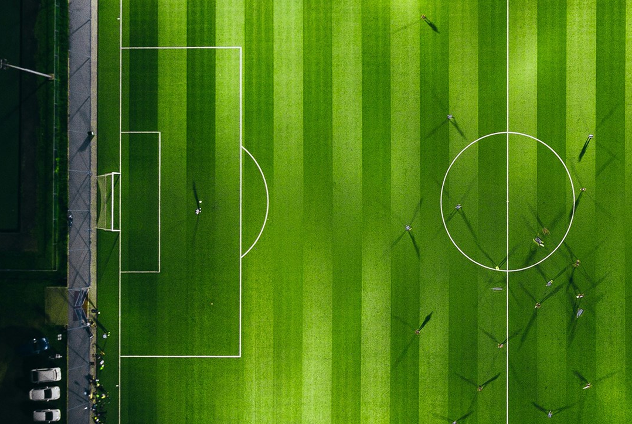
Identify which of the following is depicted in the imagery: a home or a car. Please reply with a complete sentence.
This aerial view contains a car.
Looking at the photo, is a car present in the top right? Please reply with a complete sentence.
No, I see no car in the top right.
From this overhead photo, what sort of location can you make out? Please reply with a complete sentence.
What you see here is a sports ground.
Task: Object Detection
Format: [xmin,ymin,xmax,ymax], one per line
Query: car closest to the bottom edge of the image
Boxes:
[31,409,62,424]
